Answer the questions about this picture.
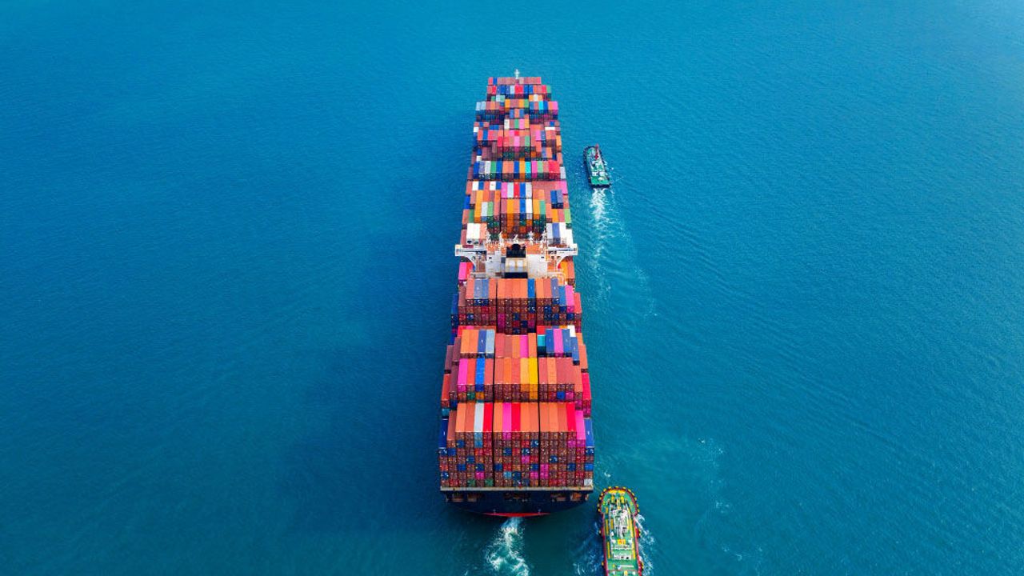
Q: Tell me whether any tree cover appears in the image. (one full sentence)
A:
No, no tree cover is visible.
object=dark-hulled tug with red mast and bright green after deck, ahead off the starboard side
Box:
[583,142,613,187]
